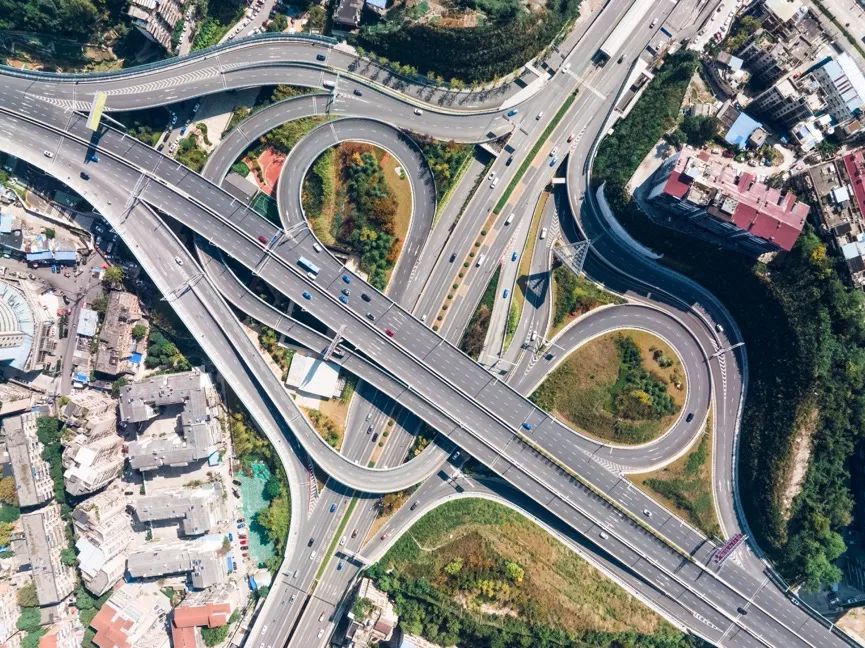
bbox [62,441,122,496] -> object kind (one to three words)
building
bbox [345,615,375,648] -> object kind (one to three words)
building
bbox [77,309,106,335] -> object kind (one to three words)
house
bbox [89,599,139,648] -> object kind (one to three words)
house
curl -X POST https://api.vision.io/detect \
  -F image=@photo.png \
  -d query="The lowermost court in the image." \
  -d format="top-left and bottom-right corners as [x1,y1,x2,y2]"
[250,193,282,227]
